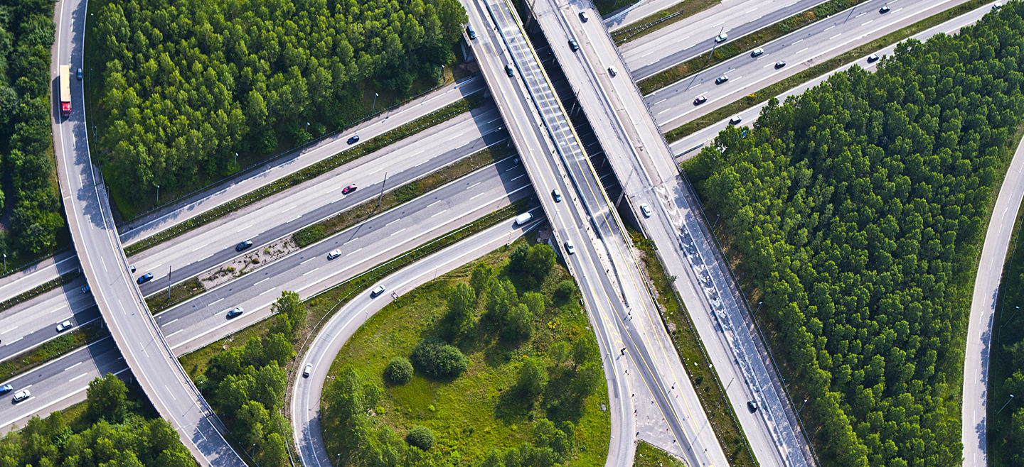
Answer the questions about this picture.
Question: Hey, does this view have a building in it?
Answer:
No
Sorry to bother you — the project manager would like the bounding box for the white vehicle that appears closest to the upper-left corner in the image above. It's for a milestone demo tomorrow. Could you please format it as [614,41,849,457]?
[60,66,72,121]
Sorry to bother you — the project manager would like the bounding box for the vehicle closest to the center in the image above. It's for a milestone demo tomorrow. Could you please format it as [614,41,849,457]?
[515,212,535,226]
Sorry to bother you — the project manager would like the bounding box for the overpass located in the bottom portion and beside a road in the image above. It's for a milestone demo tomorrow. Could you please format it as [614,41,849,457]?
[62,167,222,440]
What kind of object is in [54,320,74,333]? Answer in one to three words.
vehicle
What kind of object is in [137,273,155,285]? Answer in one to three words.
vehicle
